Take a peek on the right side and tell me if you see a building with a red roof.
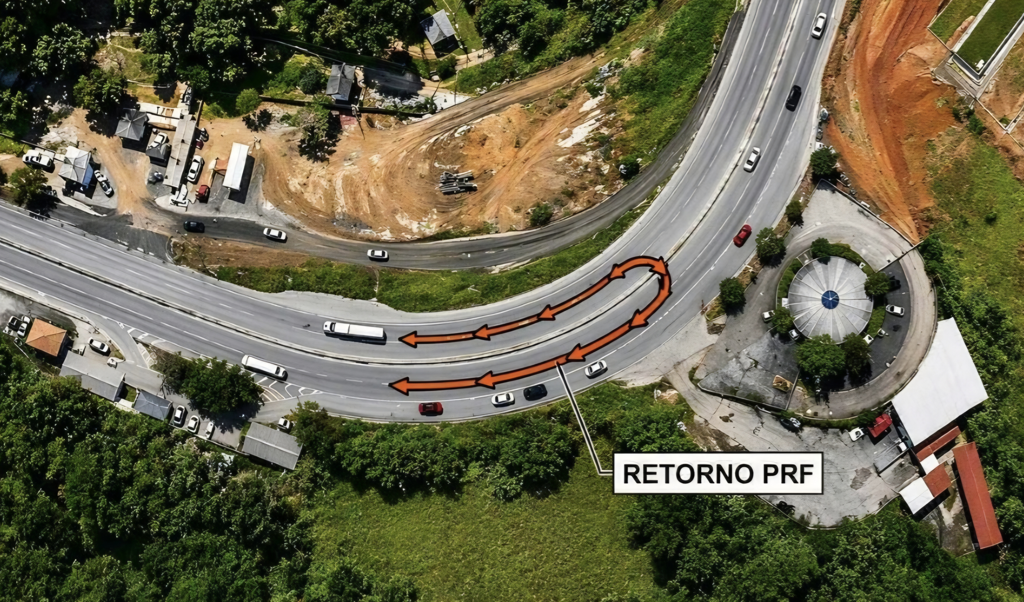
Yes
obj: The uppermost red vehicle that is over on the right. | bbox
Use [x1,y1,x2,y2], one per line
[733,224,750,247]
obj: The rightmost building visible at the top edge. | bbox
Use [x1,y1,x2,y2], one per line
[420,9,456,49]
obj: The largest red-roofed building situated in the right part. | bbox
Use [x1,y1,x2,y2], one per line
[942,440,1003,549]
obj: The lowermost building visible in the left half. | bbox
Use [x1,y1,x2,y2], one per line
[243,421,306,469]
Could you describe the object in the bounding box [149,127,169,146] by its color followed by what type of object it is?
white car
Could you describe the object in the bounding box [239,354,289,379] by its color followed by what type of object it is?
white bus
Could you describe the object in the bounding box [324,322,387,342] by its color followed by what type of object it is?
white vehicle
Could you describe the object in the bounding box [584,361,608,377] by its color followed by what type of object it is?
white car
